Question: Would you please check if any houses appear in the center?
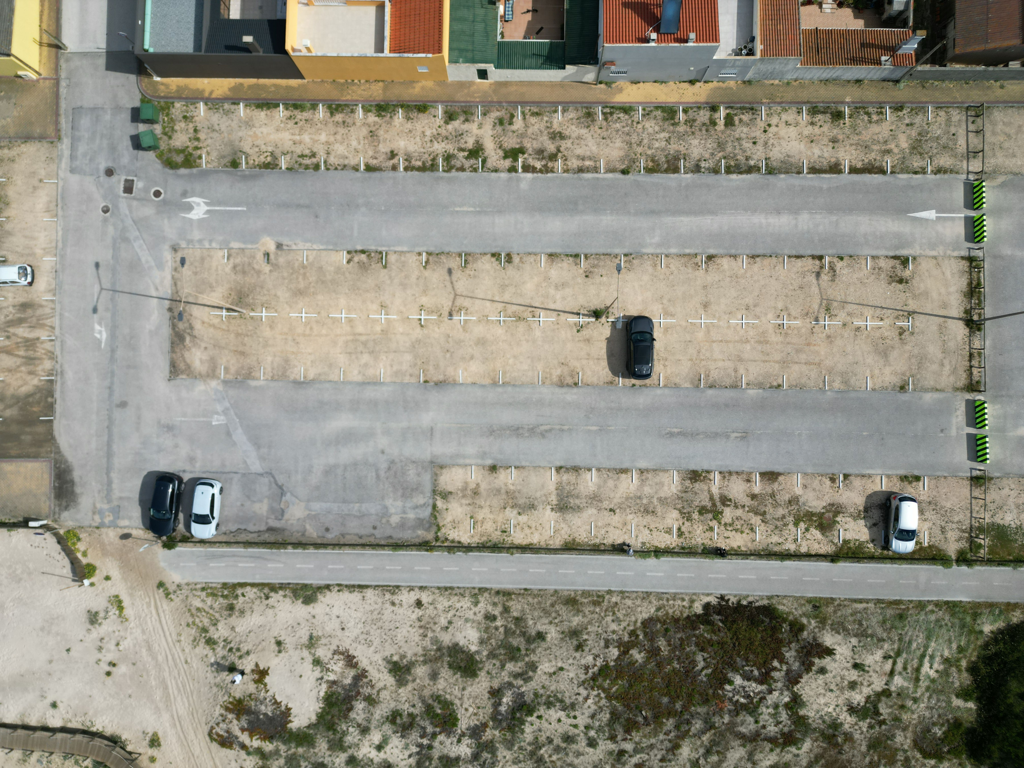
No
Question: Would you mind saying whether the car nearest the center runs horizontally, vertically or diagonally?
vertically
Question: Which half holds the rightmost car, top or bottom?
bottom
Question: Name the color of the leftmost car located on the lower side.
black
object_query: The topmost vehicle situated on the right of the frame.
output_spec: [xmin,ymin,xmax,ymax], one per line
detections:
[625,316,657,381]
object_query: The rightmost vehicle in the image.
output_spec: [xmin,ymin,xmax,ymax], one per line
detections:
[885,492,922,553]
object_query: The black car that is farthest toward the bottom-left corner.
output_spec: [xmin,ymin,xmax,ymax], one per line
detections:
[147,473,186,536]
